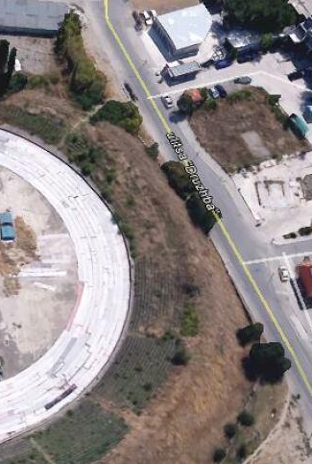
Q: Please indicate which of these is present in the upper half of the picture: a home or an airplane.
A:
home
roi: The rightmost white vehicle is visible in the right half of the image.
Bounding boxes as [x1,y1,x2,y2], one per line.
[278,265,291,280]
